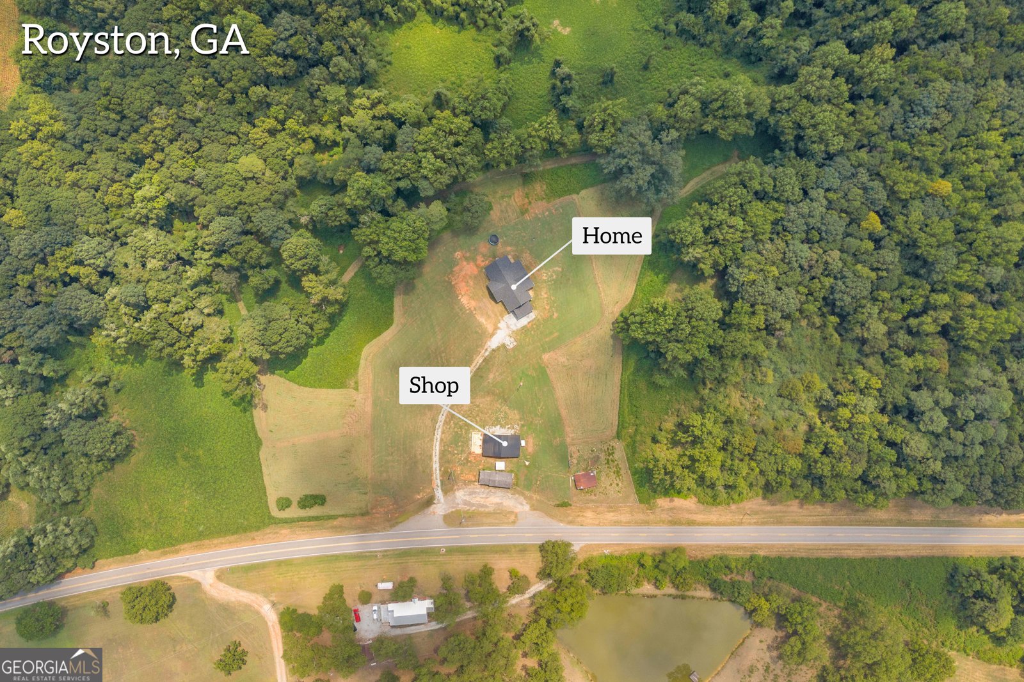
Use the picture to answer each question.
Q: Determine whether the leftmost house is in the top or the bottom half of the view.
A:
bottom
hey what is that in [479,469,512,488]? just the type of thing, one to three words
shed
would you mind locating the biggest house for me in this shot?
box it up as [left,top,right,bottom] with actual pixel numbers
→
[484,255,535,322]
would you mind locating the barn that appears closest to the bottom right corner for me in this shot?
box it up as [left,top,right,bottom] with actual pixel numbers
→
[574,471,597,489]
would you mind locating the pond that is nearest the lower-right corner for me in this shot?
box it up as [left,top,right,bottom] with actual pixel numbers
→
[557,593,752,682]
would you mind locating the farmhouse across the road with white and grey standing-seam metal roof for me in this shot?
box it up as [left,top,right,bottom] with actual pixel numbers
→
[381,596,434,626]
